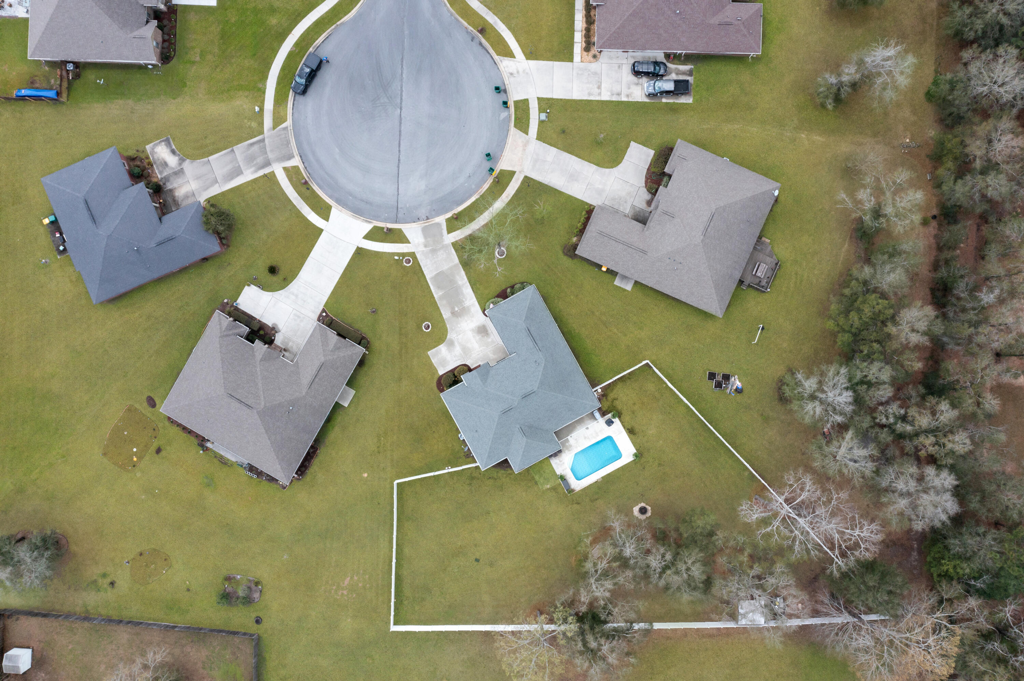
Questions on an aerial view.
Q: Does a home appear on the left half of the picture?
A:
Yes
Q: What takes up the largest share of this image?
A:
grass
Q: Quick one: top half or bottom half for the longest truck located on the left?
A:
top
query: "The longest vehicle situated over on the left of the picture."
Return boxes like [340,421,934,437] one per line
[291,51,324,96]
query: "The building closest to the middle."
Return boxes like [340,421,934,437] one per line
[439,284,601,474]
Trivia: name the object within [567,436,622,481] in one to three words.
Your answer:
swimming pool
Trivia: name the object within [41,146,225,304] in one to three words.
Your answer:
house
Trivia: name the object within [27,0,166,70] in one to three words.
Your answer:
house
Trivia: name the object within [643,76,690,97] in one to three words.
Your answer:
truck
